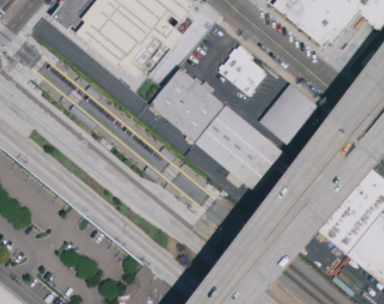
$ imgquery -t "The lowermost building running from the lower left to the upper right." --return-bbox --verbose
[318,170,384,252]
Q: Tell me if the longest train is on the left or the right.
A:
left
